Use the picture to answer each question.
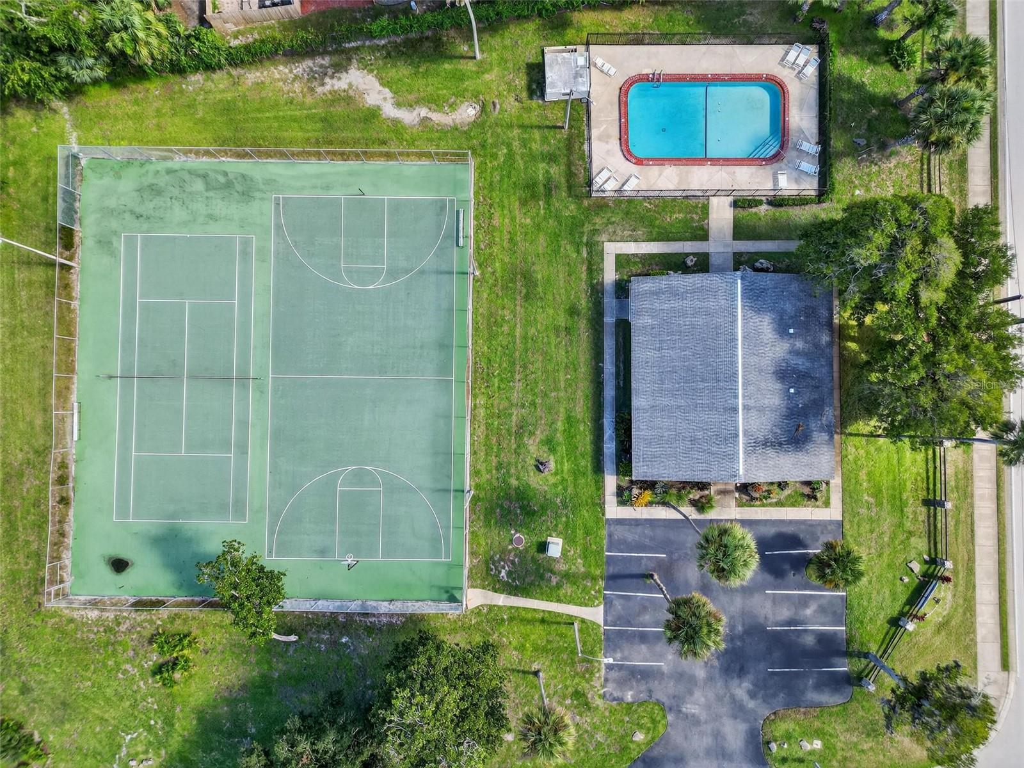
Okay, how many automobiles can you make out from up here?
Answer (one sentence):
The photo contains no automobiles.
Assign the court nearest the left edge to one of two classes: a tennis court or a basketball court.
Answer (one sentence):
I'd identify the court nearest the left edge as a tennis court.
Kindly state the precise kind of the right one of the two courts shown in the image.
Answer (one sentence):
The right one of the two courts is a basketball court.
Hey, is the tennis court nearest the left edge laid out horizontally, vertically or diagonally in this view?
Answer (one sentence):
In this picture, the tennis court nearest the left edge is oriented vertically.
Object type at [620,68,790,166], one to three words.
swimming pool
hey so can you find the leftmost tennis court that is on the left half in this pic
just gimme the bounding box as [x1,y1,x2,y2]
[114,234,254,523]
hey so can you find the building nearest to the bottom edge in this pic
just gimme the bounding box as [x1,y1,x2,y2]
[629,272,834,484]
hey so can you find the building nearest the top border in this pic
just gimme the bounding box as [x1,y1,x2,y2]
[543,45,589,100]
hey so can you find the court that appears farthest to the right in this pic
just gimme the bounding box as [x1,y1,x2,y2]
[266,196,456,561]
